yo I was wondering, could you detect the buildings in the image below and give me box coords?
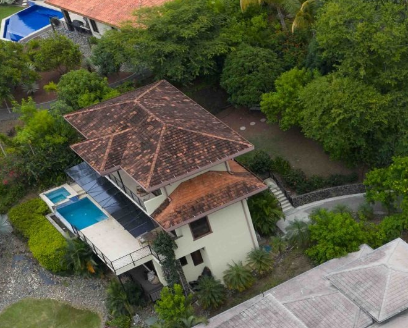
[37,78,269,280]
[0,0,190,52]
[189,236,408,328]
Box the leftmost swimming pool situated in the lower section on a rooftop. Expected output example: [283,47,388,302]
[43,188,80,213]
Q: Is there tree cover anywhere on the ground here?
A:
Yes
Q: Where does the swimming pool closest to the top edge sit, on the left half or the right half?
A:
left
